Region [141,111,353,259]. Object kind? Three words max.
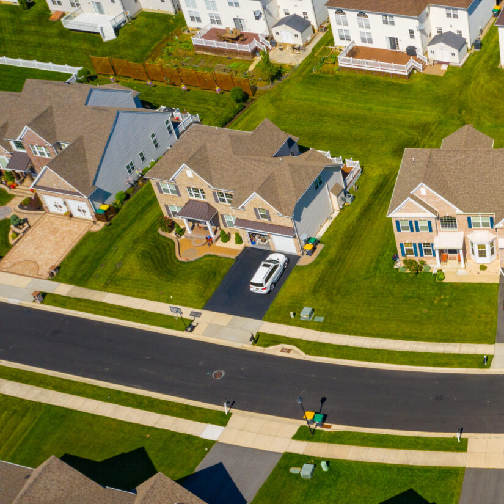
house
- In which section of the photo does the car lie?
center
